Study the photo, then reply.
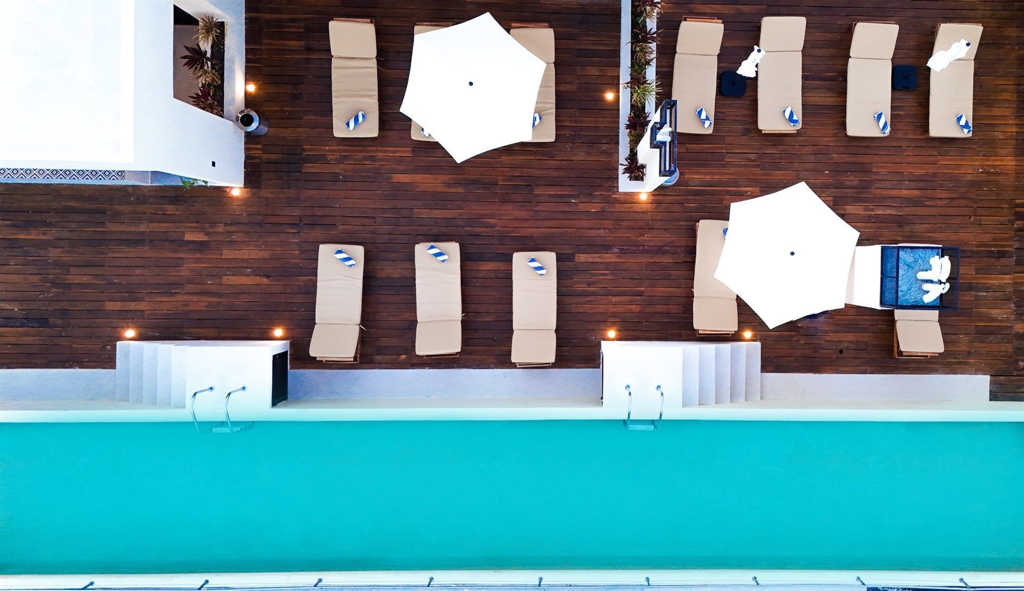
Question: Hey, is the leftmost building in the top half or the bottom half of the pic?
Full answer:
You can find the leftmost building in the top half.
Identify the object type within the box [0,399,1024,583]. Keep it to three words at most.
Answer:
swimming pool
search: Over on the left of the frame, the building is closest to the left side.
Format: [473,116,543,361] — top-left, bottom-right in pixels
[0,0,244,185]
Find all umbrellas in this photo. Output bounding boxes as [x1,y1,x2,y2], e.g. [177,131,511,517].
[714,181,860,329]
[720,48,762,96]
[892,42,970,90]
[400,11,547,163]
